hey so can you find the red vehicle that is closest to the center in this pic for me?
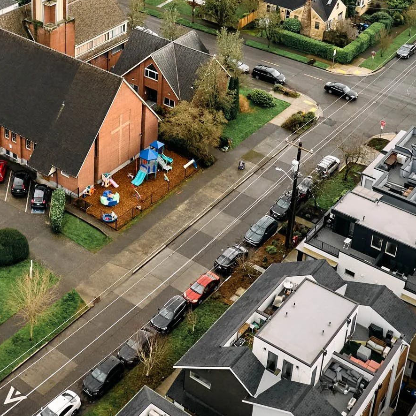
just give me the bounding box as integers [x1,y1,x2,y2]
[185,269,222,305]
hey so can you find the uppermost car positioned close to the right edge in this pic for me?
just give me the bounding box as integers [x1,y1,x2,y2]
[395,42,416,58]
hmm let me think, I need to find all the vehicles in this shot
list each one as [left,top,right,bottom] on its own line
[243,214,277,249]
[213,245,248,275]
[269,190,301,222]
[230,56,252,72]
[185,269,222,305]
[292,176,320,199]
[83,352,129,400]
[13,167,32,193]
[252,62,287,84]
[32,181,50,205]
[138,24,163,36]
[395,42,416,58]
[313,155,343,179]
[324,83,359,101]
[151,292,193,336]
